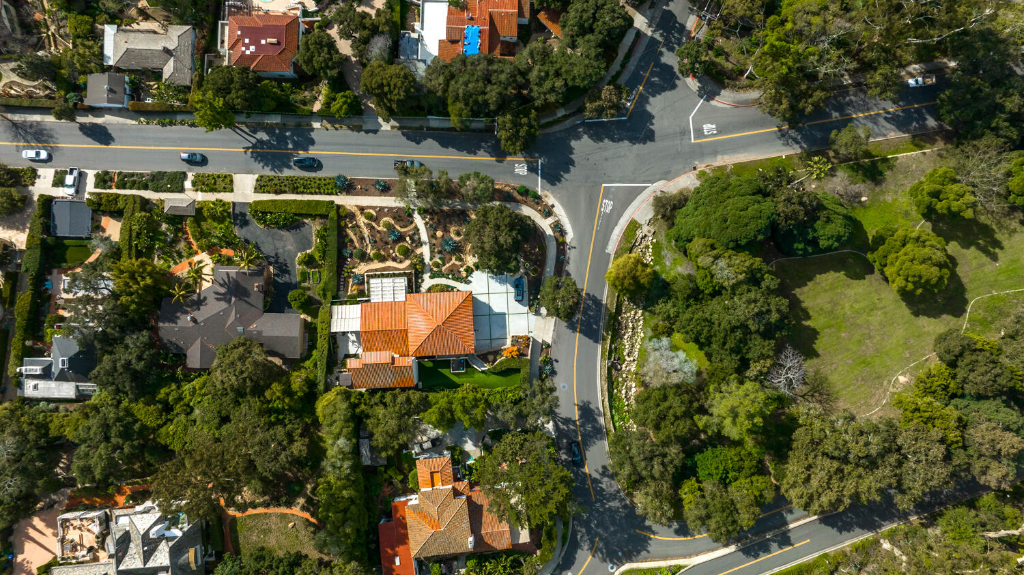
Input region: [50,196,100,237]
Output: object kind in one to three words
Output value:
building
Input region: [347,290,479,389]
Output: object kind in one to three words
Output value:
house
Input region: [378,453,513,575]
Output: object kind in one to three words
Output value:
house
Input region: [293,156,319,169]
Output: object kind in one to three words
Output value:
vehicle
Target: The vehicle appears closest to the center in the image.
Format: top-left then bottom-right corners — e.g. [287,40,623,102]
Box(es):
[513,278,525,302]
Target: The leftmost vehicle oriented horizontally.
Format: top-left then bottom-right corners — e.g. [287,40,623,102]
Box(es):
[23,149,51,161]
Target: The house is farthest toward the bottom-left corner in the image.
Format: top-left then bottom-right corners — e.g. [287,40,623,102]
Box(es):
[51,505,214,575]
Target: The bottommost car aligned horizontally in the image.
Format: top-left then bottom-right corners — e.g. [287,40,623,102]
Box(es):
[411,439,437,454]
